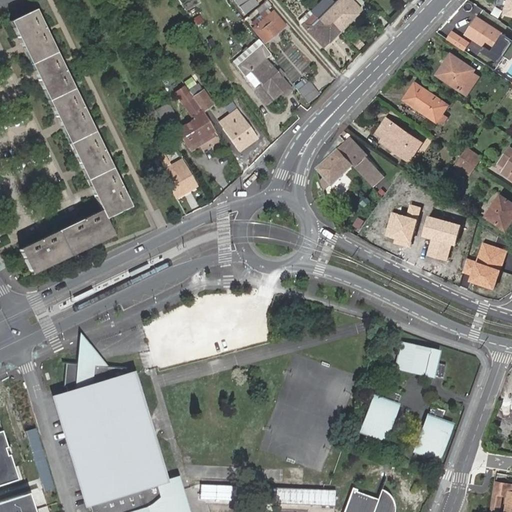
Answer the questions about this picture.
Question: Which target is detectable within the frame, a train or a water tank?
train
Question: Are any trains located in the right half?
No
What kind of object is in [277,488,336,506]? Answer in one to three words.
building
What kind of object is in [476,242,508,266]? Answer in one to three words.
house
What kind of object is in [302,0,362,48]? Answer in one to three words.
house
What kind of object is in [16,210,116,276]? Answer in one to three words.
building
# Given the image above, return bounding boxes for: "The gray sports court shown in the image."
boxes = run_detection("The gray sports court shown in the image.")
[258,354,353,472]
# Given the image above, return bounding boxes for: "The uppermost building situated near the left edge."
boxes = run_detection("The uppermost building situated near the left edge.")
[10,7,132,218]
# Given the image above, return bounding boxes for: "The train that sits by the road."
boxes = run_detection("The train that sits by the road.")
[72,260,172,312]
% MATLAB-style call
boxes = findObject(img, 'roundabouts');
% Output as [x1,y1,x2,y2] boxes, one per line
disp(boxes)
[235,183,334,274]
